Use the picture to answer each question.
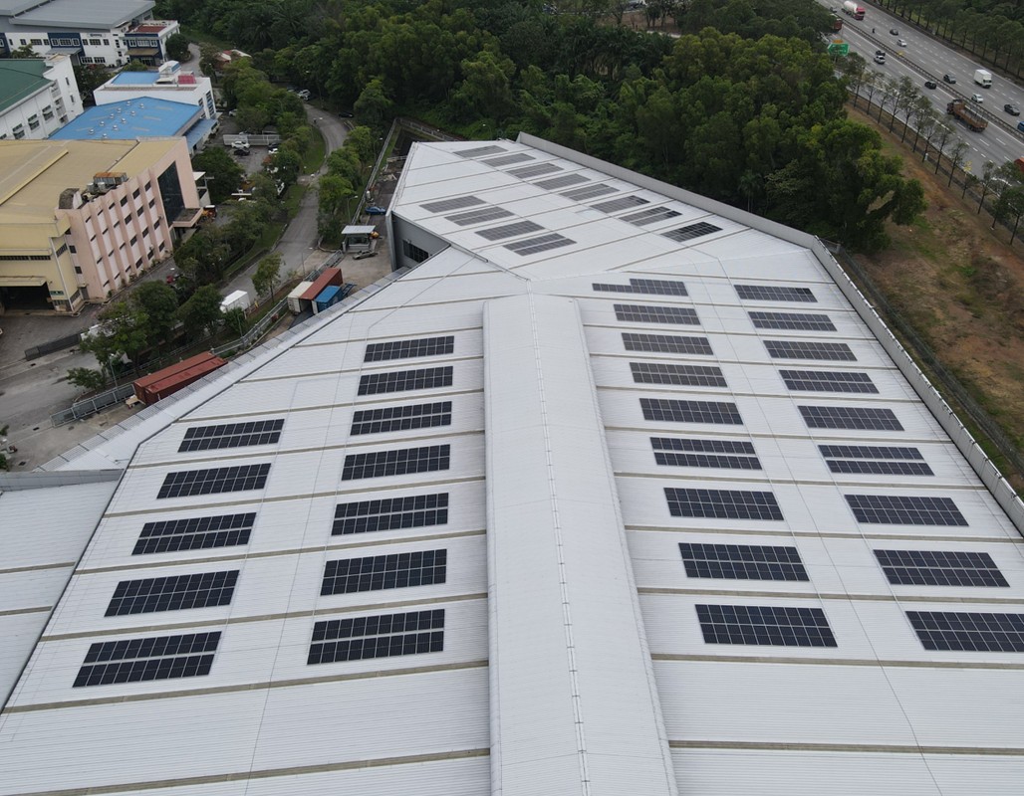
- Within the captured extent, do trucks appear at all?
Yes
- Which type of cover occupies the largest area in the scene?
buildings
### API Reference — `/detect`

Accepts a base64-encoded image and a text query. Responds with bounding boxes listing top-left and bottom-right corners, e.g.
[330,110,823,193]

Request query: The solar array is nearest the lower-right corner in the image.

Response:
[905,609,1024,650]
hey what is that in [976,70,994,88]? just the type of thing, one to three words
vehicle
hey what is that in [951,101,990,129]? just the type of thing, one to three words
truck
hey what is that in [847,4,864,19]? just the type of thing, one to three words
vehicle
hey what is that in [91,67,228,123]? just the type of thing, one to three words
building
